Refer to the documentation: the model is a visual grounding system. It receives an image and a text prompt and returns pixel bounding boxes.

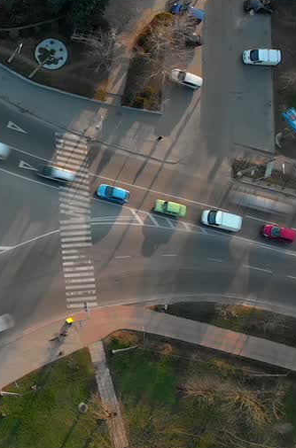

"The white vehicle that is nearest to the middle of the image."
[199,209,244,232]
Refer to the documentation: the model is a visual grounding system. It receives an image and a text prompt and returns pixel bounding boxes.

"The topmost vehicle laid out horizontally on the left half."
[39,164,77,184]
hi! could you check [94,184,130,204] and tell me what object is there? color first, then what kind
blue car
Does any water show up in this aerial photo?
No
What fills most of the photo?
paved ground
